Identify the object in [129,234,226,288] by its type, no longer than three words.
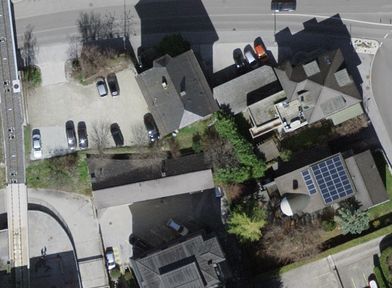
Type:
house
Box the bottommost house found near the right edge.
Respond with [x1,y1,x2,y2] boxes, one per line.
[264,150,390,216]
